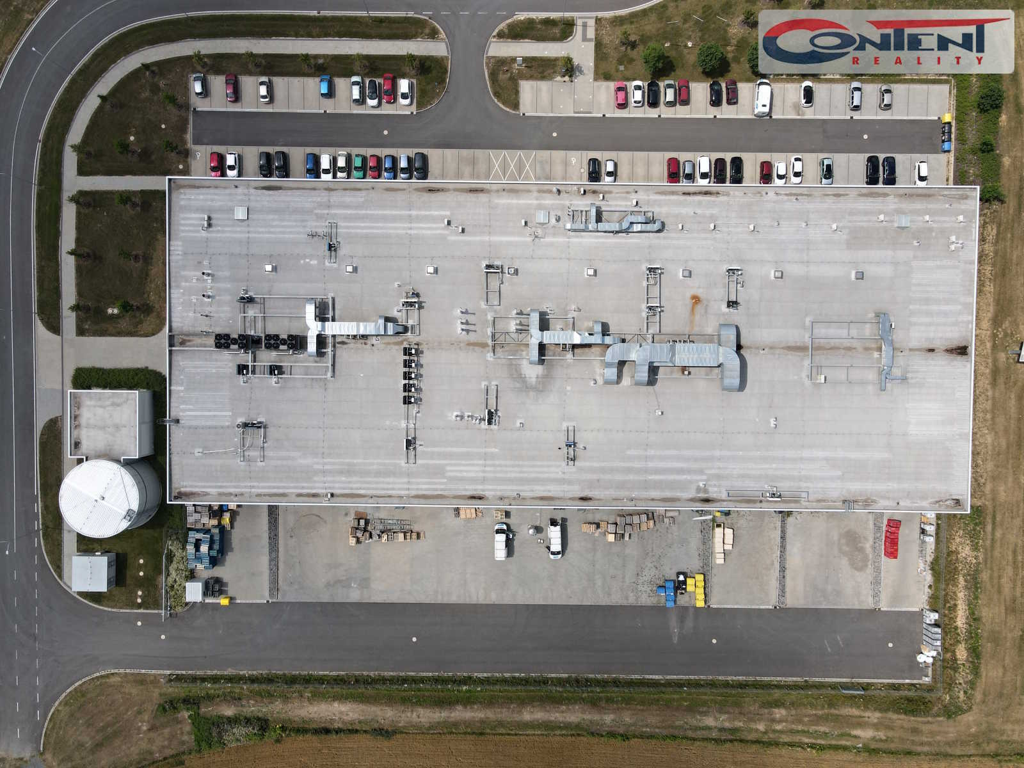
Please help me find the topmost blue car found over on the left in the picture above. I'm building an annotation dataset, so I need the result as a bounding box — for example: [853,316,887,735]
[319,76,332,99]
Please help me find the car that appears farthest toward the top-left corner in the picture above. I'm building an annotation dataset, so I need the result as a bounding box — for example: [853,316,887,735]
[192,73,207,98]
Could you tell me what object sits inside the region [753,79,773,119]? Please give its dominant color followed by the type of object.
white vehicle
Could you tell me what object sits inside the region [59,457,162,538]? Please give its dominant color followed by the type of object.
white storage tank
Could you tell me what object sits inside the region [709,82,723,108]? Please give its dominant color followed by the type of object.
black car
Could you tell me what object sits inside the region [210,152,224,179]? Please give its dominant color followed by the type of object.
red car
